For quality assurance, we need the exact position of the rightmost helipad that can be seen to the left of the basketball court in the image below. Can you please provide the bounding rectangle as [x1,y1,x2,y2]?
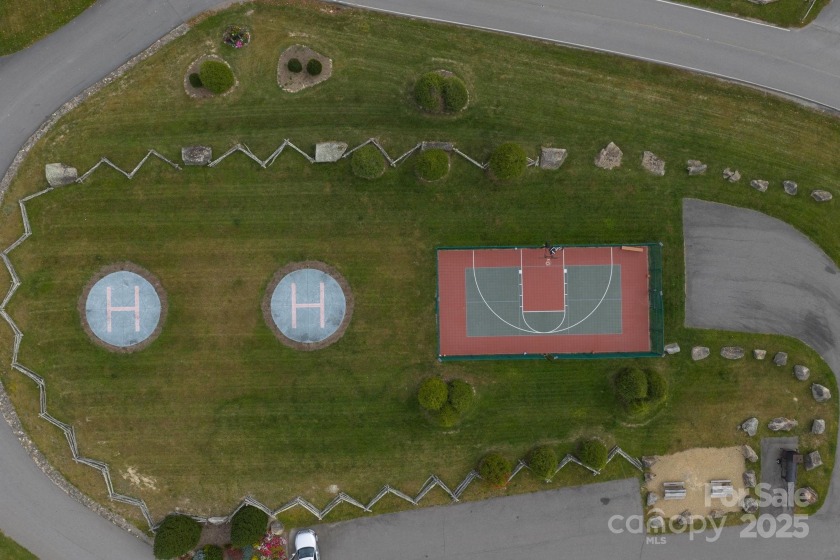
[262,262,354,351]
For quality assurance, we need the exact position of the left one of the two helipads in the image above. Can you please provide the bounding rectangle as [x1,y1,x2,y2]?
[78,264,168,353]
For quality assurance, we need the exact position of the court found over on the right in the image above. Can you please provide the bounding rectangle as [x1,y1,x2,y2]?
[439,245,651,356]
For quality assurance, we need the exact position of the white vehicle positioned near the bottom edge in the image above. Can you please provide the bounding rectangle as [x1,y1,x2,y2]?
[285,528,318,560]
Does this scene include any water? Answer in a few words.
No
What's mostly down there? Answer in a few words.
grass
